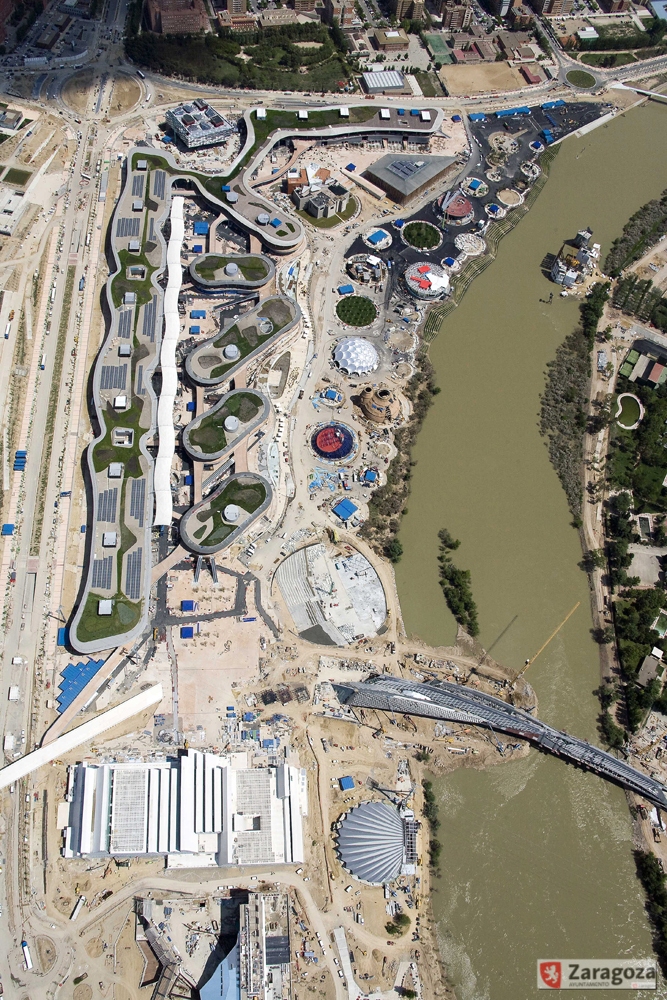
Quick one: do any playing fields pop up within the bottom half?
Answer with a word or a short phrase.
No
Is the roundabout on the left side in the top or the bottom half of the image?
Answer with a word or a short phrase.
top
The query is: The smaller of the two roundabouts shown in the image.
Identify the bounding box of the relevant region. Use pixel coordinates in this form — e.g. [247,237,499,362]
[561,65,601,92]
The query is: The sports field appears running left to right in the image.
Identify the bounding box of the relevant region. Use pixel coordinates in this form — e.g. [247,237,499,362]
[443,62,528,96]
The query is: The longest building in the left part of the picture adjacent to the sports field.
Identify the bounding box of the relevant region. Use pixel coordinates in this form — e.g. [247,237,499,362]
[69,105,444,659]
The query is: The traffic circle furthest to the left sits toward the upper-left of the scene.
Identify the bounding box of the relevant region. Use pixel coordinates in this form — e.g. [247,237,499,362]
[61,63,144,122]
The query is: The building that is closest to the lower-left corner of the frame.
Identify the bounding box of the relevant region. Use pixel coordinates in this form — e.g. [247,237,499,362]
[134,896,195,1000]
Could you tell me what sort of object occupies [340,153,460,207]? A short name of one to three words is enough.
building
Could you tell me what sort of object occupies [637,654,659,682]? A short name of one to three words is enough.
house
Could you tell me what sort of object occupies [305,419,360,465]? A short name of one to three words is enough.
building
